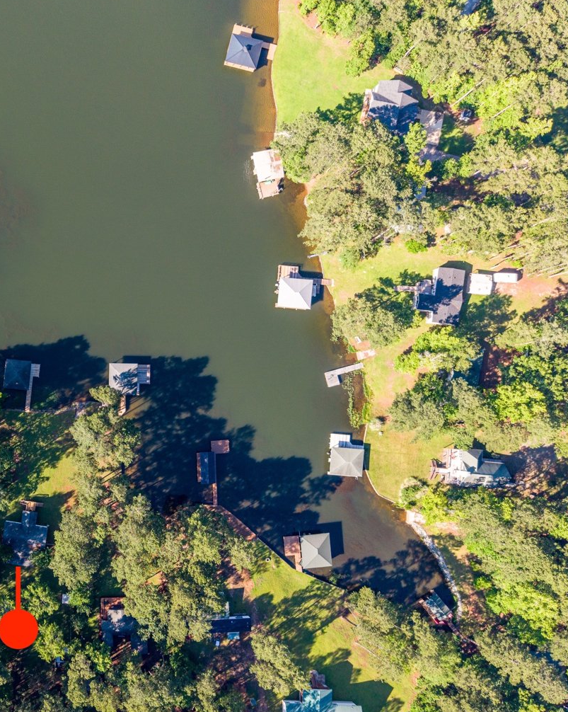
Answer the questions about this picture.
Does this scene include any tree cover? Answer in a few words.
Yes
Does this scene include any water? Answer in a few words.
Yes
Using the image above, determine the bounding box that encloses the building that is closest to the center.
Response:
[275,264,319,311]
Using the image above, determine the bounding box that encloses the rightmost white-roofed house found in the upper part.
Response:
[464,273,493,294]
